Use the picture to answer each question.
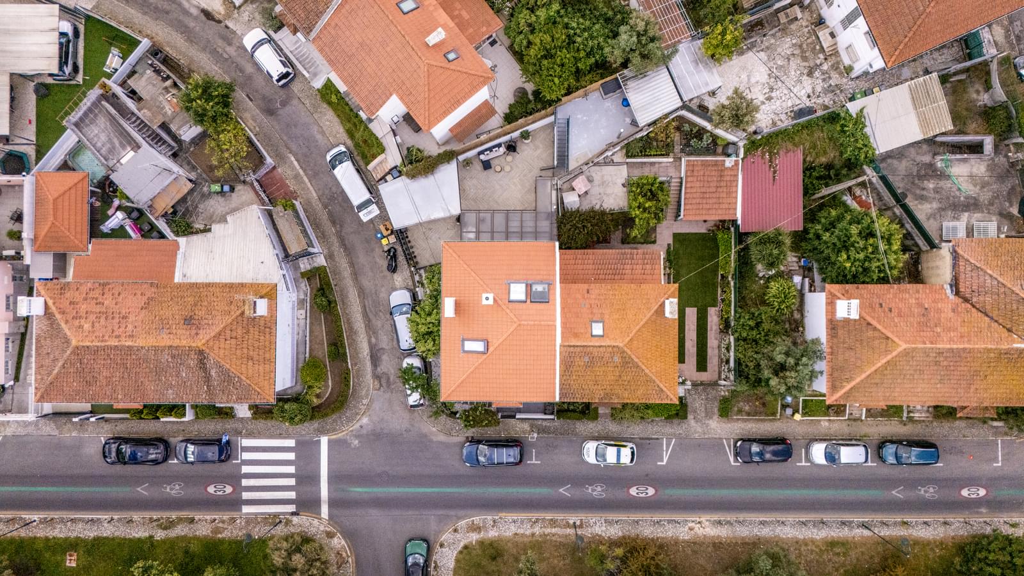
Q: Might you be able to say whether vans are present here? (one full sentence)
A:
Yes, the frame does contain a van.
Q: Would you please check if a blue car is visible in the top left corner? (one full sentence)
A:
No, no blue car can be made out in the top left corner.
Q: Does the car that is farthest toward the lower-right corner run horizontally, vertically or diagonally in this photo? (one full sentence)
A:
Seen from above, the car that is farthest toward the lower-right corner lies horizontally.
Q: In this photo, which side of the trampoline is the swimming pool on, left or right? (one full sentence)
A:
The swimming pool can be seen on the right of the trampoline.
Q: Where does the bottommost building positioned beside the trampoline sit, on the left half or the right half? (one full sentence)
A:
The bottommost building positioned beside the trampoline sits on the left side.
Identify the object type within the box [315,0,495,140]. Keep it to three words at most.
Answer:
house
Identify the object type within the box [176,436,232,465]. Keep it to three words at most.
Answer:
car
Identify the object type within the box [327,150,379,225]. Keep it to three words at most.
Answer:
van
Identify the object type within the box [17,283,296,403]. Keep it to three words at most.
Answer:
house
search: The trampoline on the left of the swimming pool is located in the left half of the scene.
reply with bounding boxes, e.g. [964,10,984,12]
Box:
[0,150,32,175]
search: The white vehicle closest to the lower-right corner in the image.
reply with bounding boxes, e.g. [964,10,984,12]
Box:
[807,437,871,468]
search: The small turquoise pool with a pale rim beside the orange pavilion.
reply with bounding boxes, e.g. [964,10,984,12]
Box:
[67,141,115,189]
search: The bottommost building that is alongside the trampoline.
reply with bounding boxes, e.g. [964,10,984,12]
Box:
[32,171,93,252]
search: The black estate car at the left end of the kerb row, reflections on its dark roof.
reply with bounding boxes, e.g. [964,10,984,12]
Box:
[103,435,171,468]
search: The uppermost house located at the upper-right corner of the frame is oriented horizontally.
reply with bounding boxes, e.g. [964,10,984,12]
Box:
[809,0,1024,90]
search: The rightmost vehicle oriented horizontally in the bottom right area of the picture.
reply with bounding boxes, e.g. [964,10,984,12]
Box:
[876,437,940,468]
